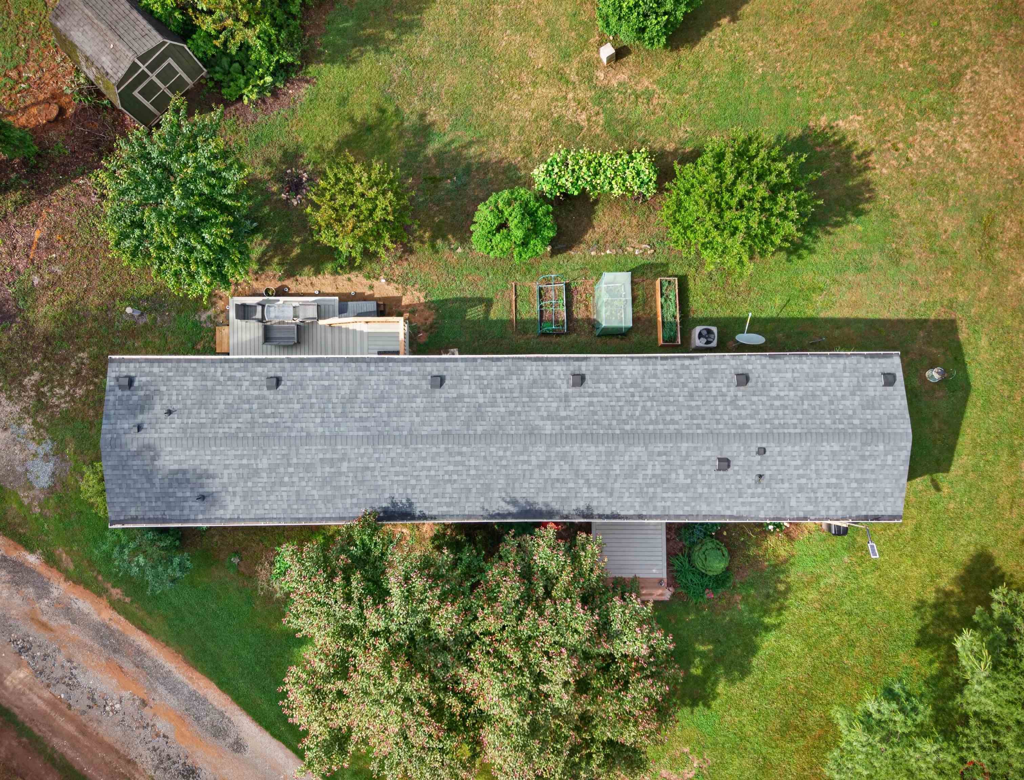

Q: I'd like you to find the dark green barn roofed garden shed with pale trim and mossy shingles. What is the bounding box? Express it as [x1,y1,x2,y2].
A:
[49,0,208,127]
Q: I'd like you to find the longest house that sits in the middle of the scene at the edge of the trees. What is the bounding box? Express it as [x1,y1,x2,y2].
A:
[99,352,911,527]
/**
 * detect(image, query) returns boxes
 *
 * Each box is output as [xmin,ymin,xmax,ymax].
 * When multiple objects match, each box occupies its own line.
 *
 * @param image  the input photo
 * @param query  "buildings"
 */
[49,0,208,127]
[99,352,911,527]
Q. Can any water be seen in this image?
No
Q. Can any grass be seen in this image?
Yes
